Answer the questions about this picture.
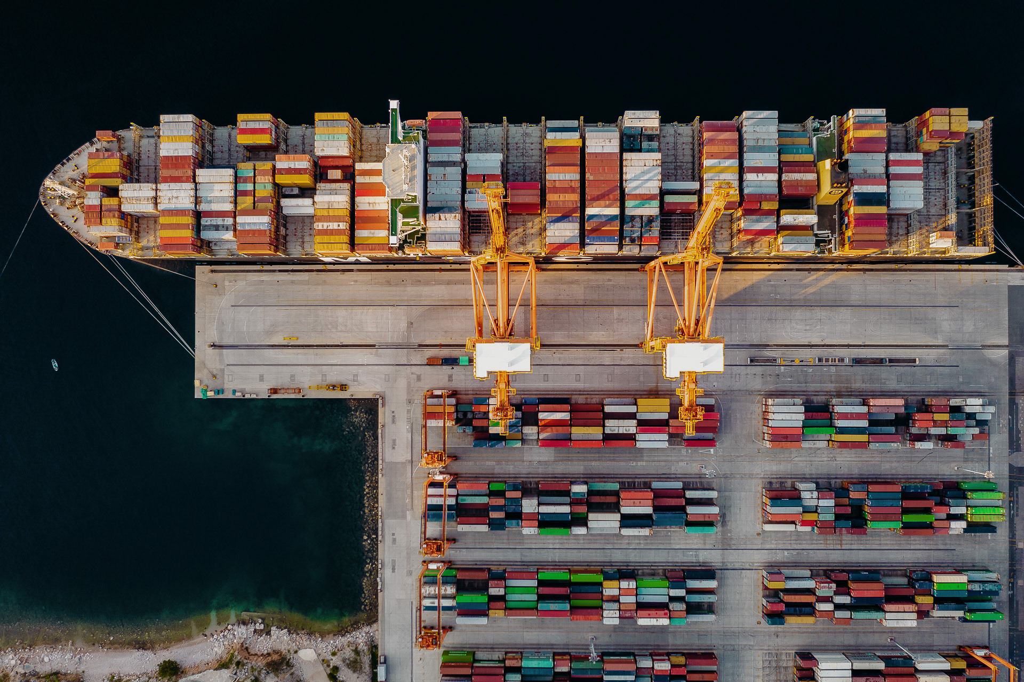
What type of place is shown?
port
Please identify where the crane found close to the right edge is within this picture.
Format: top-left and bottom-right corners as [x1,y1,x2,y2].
[961,648,1021,682]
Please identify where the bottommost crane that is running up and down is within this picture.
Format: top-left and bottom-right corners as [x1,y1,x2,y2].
[411,562,454,654]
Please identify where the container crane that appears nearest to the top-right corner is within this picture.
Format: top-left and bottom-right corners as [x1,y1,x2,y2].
[631,185,739,439]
